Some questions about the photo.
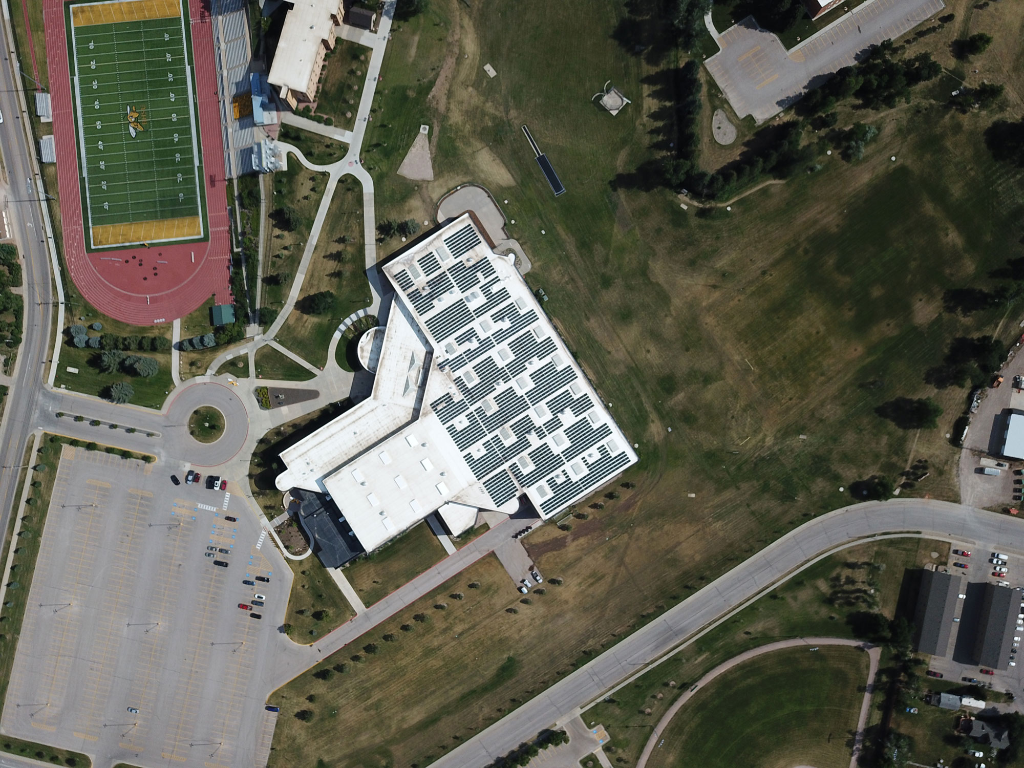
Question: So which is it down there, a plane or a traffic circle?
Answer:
traffic circle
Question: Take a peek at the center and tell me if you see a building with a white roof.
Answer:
Yes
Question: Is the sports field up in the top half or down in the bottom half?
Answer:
top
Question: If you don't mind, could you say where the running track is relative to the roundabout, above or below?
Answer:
above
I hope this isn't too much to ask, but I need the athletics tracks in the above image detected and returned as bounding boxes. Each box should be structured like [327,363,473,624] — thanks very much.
[41,0,234,325]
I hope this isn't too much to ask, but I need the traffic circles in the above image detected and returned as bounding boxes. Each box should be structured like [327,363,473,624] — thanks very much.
[166,382,249,467]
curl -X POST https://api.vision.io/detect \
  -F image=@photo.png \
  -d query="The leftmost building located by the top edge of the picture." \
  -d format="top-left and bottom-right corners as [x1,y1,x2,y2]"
[267,0,351,107]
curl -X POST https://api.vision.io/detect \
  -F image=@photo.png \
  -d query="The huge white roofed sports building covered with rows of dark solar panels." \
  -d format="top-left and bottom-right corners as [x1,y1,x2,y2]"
[275,213,640,569]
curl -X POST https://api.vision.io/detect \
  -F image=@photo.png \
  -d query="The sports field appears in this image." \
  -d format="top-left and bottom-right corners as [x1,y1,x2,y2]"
[63,0,209,255]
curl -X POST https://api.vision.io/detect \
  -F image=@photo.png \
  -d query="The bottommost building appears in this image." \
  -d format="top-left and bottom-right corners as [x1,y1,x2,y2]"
[966,716,1010,750]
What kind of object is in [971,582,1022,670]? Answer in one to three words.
building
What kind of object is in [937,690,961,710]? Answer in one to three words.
shed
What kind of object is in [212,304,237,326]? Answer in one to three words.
shed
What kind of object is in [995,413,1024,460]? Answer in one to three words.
building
